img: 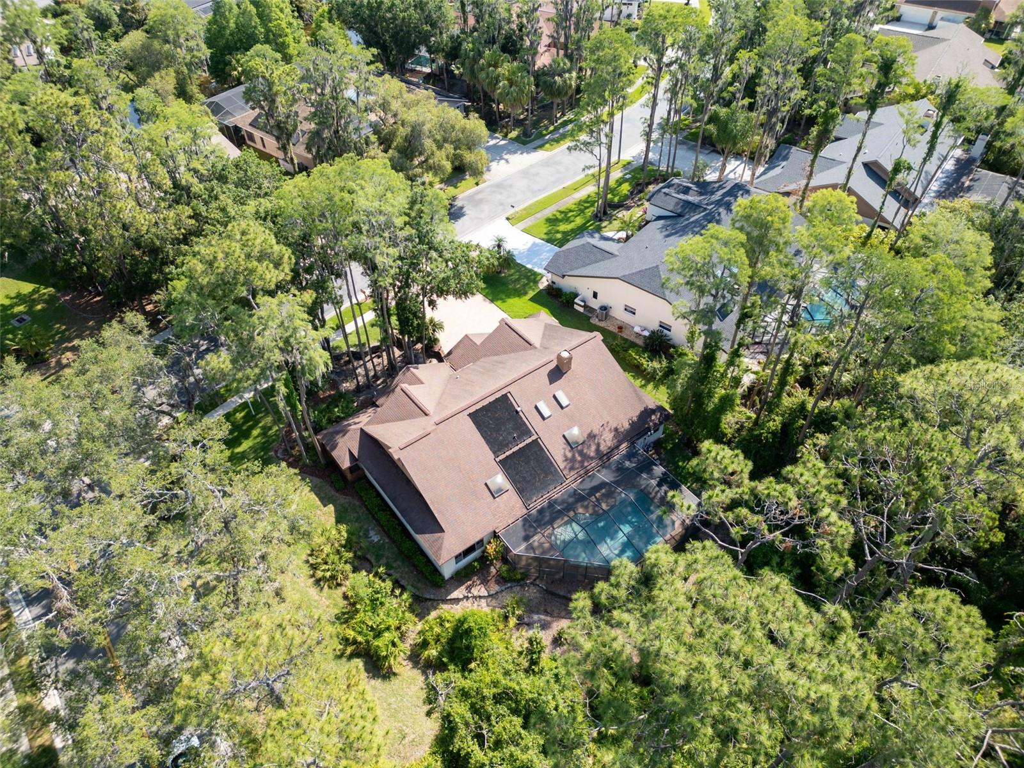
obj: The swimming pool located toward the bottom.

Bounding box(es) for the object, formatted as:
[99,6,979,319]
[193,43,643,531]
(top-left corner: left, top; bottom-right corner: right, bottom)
[501,458,697,582]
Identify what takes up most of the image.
trees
